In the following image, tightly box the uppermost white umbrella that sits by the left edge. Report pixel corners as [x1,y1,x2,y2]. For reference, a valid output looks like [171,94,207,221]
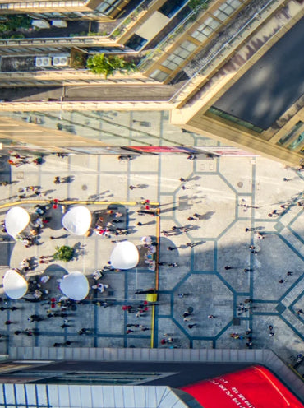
[3,206,36,238]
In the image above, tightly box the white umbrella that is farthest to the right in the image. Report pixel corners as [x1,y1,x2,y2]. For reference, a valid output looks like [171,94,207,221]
[108,239,140,271]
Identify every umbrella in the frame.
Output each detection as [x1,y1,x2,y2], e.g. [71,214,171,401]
[3,206,36,238]
[60,272,92,303]
[108,239,140,271]
[61,206,94,236]
[1,267,34,299]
